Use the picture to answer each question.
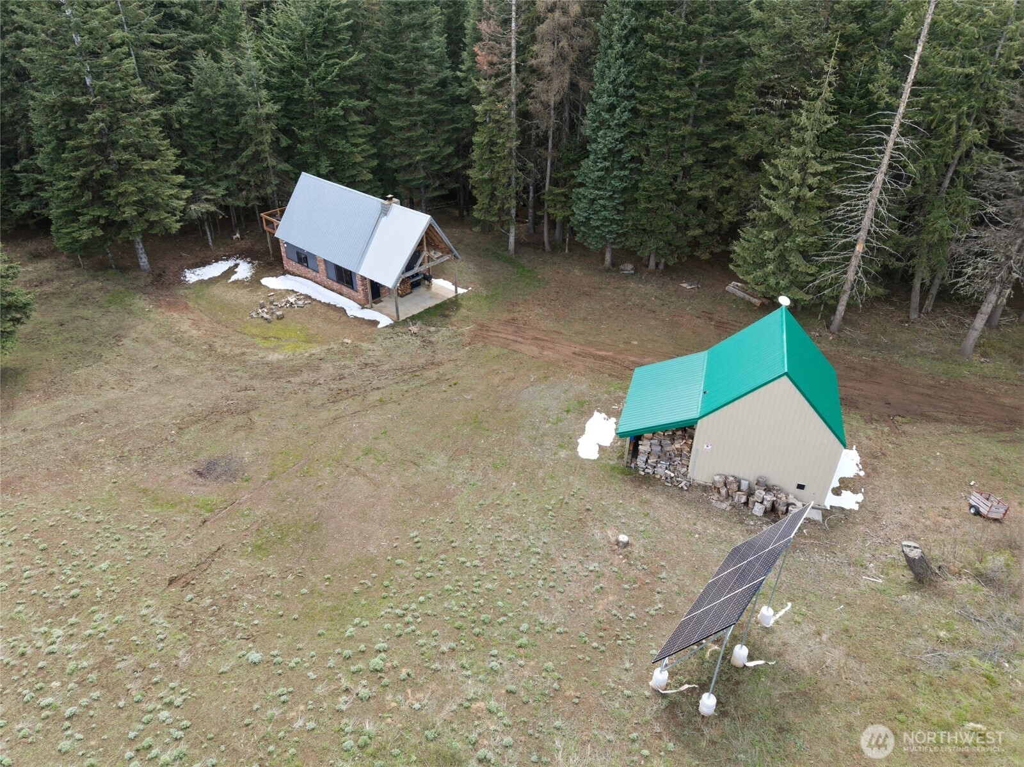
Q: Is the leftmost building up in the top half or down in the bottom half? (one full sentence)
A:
The leftmost building sits in the top half of the picture.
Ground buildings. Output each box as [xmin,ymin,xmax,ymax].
[616,304,848,519]
[261,171,462,324]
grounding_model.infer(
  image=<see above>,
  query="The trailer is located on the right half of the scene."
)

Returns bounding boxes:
[957,489,1013,522]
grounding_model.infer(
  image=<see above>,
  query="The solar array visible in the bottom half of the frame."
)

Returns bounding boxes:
[651,501,814,719]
